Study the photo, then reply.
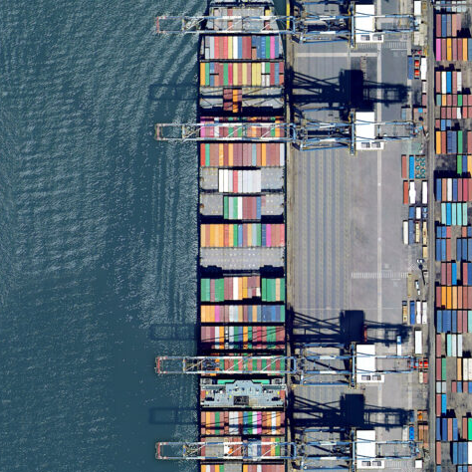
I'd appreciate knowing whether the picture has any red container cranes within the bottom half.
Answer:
No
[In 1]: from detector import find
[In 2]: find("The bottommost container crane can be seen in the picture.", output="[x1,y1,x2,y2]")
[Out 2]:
[157,424,418,472]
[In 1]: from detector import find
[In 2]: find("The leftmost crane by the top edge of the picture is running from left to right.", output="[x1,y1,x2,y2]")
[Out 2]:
[157,1,417,49]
